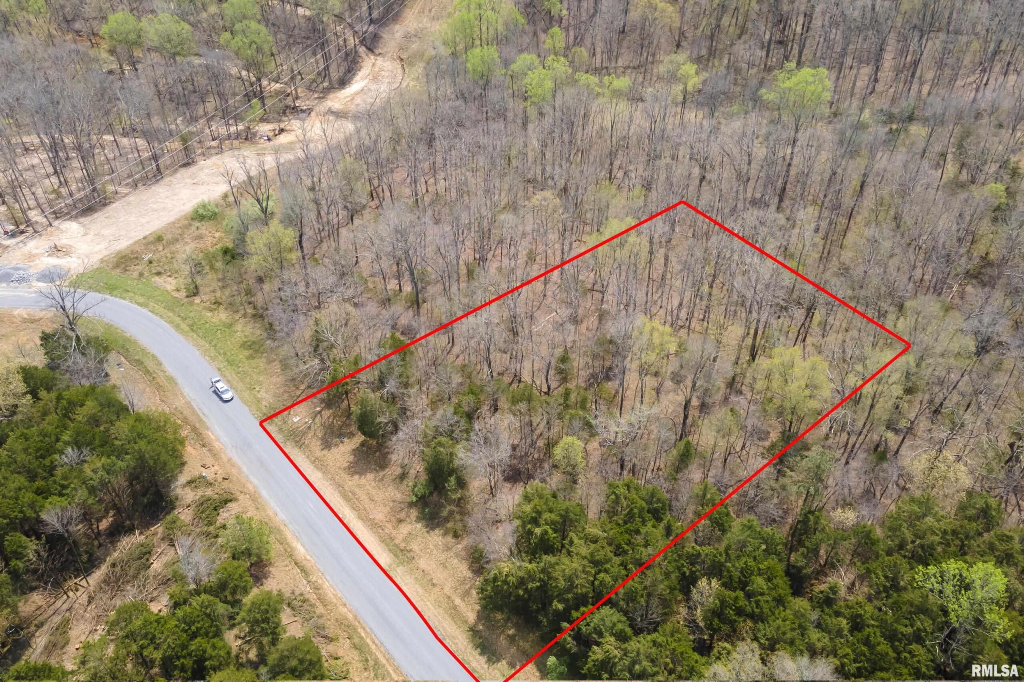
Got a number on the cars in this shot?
1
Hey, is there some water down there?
No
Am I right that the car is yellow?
No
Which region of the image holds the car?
left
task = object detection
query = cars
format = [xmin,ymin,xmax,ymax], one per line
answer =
[208,376,234,399]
